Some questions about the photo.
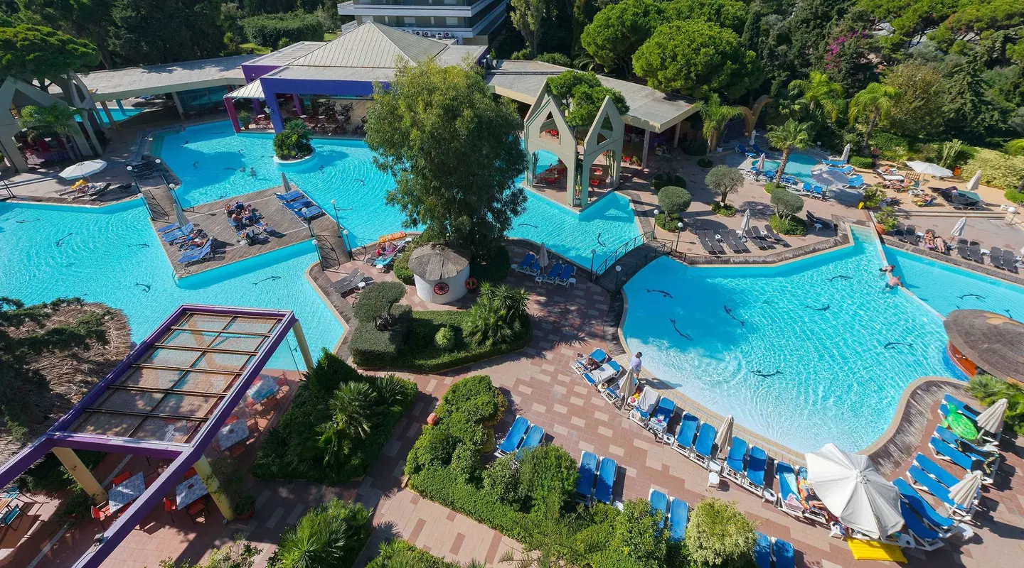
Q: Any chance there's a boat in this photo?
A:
No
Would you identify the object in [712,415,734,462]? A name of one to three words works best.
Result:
umbrella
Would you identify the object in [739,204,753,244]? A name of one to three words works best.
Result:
umbrella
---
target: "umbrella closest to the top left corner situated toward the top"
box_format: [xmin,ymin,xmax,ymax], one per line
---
[56,160,112,197]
